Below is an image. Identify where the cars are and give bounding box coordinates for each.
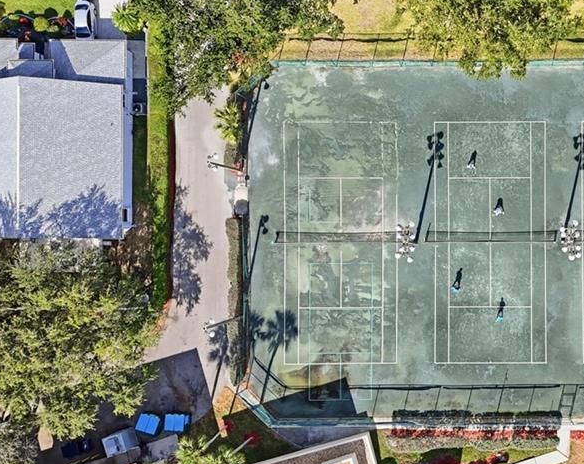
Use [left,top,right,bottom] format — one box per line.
[52,434,100,463]
[74,0,100,39]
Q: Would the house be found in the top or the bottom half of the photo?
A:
top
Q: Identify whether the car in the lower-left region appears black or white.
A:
black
